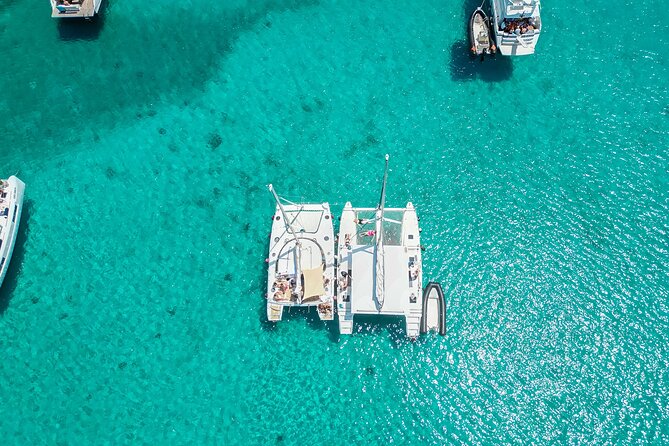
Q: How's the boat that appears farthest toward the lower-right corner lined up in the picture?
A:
vertically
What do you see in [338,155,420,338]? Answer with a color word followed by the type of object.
white boat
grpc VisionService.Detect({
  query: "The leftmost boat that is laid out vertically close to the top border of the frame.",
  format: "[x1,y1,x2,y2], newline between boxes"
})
[471,6,497,63]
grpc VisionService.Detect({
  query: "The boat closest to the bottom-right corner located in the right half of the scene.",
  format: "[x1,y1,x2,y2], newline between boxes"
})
[420,282,446,336]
